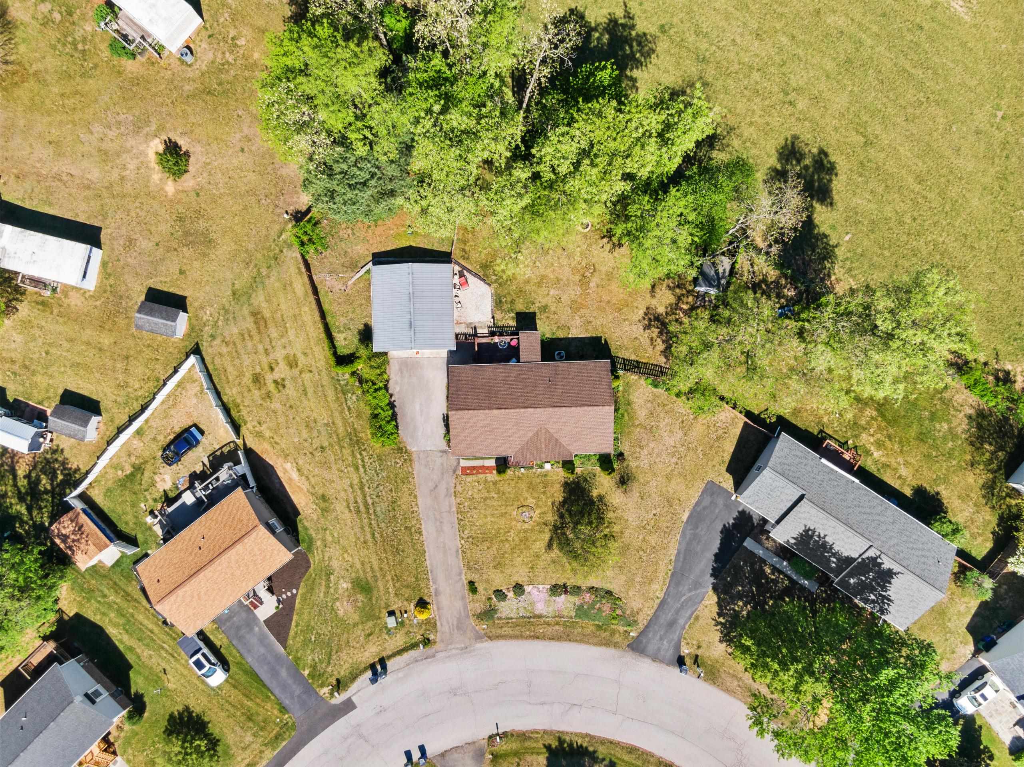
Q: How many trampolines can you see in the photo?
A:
none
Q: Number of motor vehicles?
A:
3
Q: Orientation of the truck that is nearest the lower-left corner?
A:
diagonally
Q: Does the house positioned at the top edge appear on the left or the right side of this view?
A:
left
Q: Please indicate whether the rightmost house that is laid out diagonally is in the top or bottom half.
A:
bottom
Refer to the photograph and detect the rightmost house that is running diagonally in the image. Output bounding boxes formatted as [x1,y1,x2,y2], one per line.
[730,421,957,628]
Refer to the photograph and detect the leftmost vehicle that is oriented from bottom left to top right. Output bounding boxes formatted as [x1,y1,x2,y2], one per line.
[160,425,205,467]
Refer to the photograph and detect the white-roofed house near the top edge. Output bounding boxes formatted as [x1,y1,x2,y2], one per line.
[111,0,212,63]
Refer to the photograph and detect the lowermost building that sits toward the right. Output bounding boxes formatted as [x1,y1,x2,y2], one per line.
[973,610,1024,716]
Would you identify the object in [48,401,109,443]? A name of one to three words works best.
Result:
shed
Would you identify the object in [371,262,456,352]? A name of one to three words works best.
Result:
building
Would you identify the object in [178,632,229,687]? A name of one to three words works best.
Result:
truck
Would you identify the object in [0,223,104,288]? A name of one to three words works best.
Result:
house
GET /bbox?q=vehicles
[178,632,229,687]
[955,672,1002,715]
[160,425,205,467]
